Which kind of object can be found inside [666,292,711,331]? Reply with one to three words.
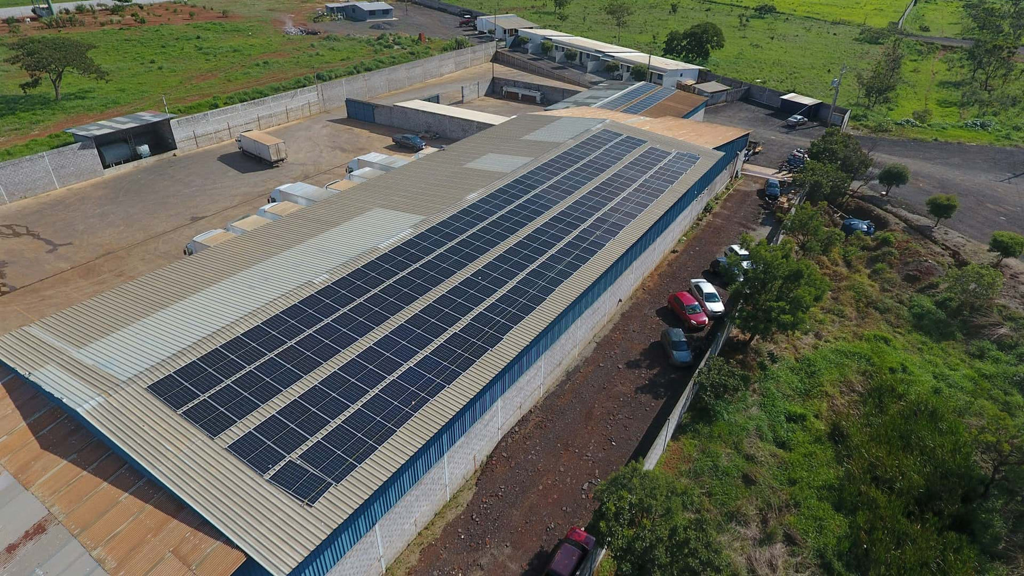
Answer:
car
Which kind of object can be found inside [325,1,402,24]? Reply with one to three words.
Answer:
house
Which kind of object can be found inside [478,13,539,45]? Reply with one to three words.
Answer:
barn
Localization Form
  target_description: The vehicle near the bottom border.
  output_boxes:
[523,518,600,576]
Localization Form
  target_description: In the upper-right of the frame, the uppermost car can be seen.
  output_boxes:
[784,115,810,129]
